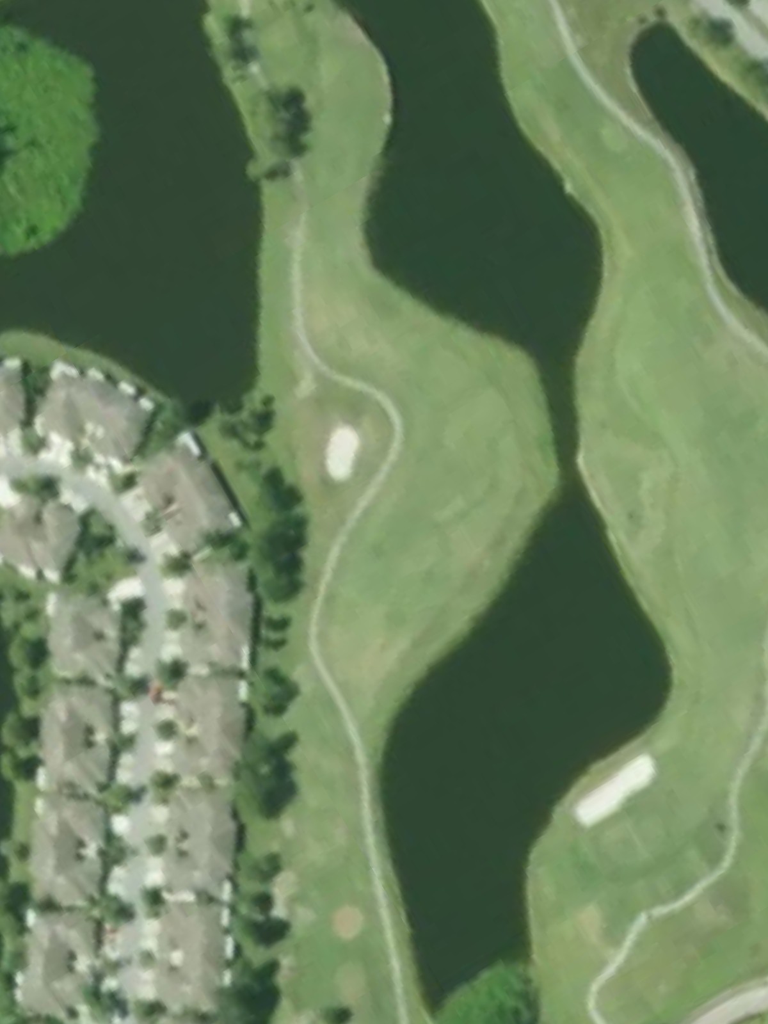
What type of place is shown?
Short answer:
golf course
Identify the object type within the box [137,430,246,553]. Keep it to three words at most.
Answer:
house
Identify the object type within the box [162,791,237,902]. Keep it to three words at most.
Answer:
house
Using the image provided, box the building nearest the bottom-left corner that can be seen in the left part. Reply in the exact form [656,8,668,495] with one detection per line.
[13,909,97,1021]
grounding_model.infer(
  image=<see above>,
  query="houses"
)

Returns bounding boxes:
[180,562,254,673]
[28,795,106,906]
[35,684,114,796]
[46,591,120,678]
[34,361,154,461]
[13,909,97,1021]
[0,359,28,445]
[137,430,246,553]
[162,791,237,902]
[0,492,82,584]
[172,678,249,788]
[153,901,234,1013]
